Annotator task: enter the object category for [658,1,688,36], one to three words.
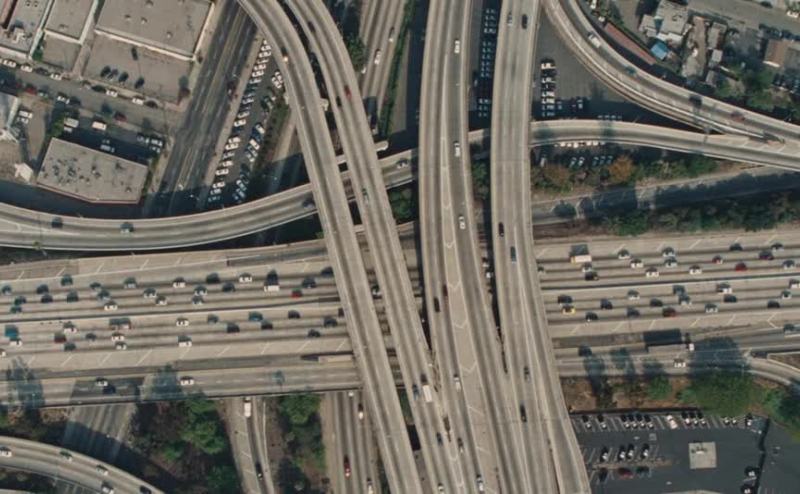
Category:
building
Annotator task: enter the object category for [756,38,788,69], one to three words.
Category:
house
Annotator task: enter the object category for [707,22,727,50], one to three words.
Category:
building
